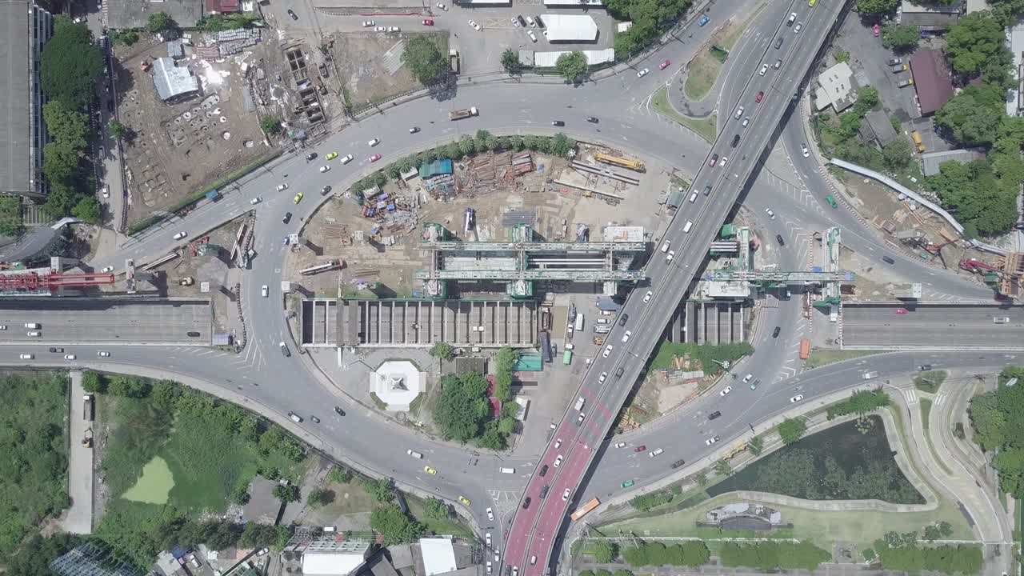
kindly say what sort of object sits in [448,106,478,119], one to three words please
vehicle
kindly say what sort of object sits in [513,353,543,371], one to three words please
building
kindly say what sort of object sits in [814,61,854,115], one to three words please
house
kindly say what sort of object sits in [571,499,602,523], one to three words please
bus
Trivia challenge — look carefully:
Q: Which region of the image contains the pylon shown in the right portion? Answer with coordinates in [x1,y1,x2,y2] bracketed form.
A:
[618,531,644,552]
